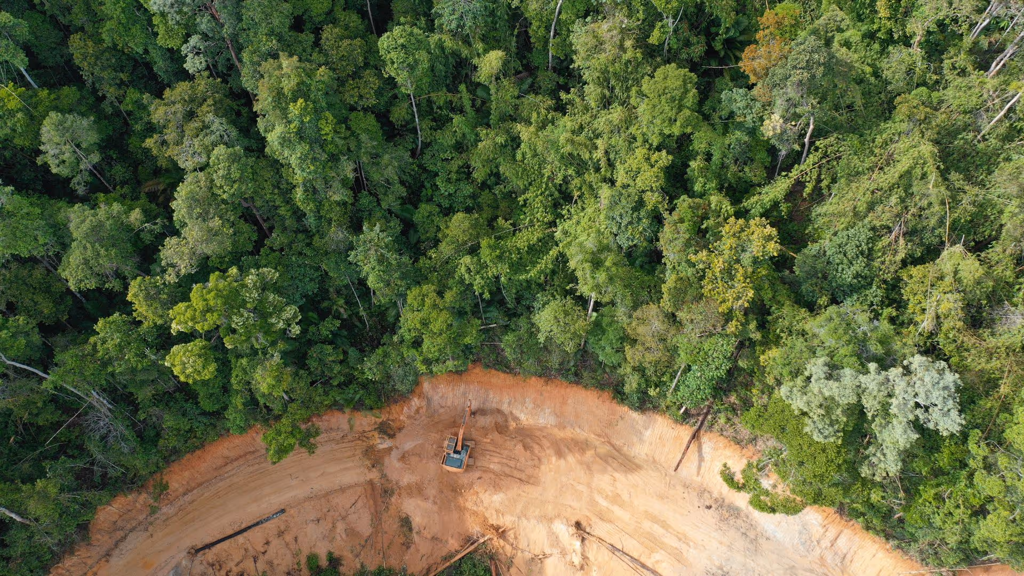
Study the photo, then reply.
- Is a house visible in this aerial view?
No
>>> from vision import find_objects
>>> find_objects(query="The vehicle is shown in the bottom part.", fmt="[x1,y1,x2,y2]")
[441,400,480,476]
